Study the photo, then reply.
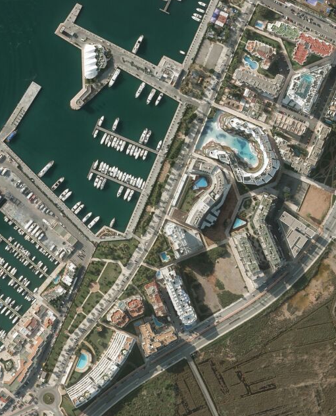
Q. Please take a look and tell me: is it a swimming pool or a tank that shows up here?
swimming pool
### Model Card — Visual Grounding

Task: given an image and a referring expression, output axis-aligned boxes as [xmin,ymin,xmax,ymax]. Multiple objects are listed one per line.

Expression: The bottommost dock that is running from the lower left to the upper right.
[0,82,41,152]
